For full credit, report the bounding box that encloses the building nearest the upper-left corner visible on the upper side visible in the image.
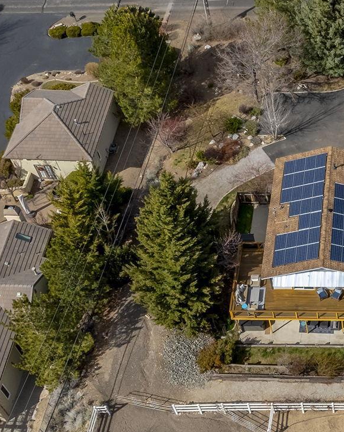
[0,76,121,174]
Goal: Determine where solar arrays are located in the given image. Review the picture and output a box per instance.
[331,183,344,265]
[268,153,323,270]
